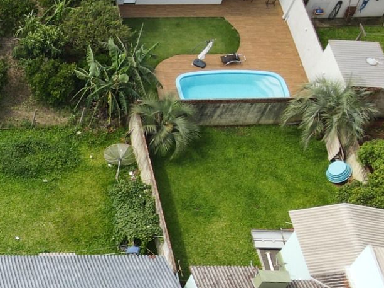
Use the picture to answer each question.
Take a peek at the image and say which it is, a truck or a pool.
pool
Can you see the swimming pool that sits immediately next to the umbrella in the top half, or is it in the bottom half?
top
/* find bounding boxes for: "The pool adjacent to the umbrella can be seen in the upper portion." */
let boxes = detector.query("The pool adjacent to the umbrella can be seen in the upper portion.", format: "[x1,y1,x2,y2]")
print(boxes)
[178,70,290,98]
